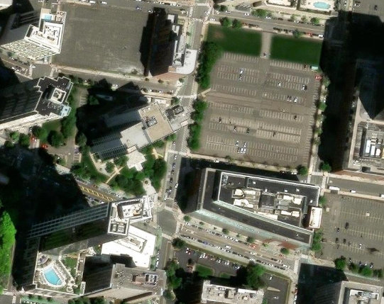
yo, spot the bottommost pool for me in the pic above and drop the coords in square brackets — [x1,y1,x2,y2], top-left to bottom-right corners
[44,267,62,285]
